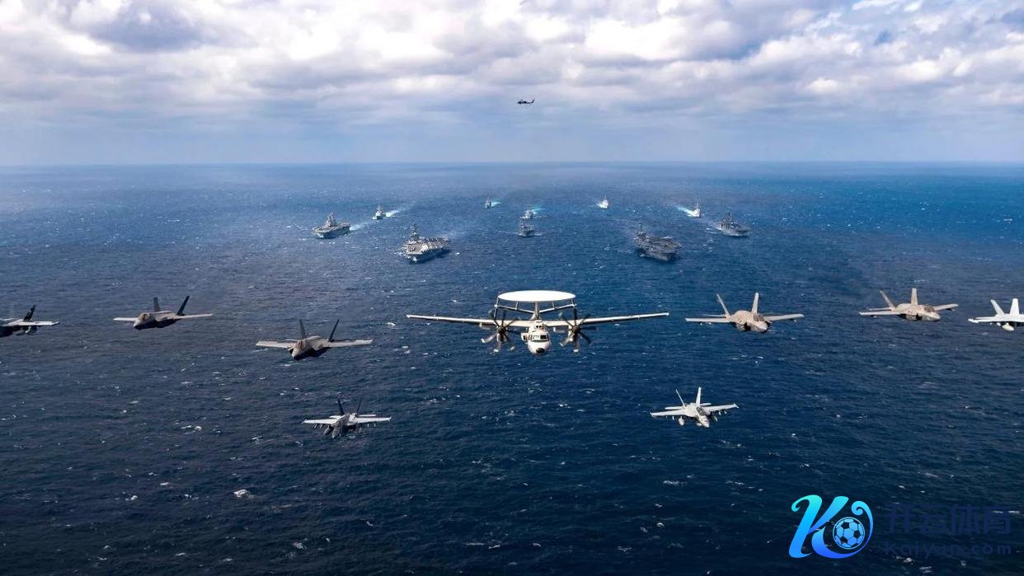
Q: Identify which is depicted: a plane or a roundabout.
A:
plane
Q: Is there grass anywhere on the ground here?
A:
No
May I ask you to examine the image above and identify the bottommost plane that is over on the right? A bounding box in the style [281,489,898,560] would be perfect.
[650,387,738,428]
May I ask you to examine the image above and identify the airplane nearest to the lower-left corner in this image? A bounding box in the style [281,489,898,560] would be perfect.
[0,302,58,336]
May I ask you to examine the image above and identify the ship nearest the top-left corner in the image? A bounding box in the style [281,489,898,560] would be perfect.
[315,214,350,238]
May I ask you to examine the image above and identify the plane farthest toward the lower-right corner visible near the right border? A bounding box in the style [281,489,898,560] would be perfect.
[967,295,1024,331]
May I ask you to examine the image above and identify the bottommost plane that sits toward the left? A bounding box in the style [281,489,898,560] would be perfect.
[305,399,393,440]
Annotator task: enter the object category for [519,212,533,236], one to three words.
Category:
ship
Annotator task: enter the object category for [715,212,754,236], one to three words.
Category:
ship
